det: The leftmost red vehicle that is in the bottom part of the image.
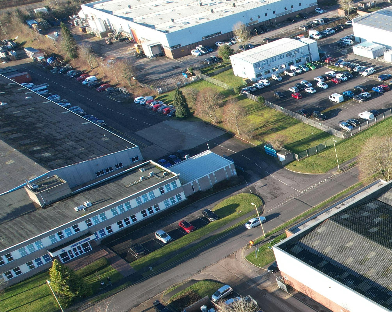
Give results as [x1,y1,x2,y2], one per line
[178,220,195,233]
